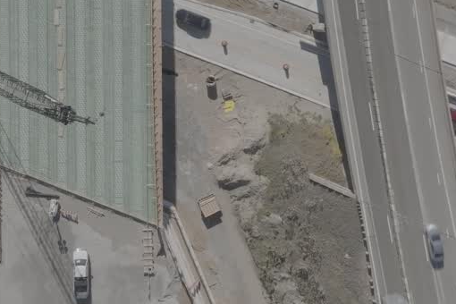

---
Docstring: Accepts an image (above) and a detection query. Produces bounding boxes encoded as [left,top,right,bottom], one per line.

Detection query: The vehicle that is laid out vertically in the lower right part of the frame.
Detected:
[424,224,445,265]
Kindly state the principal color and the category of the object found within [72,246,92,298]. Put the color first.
white vehicle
